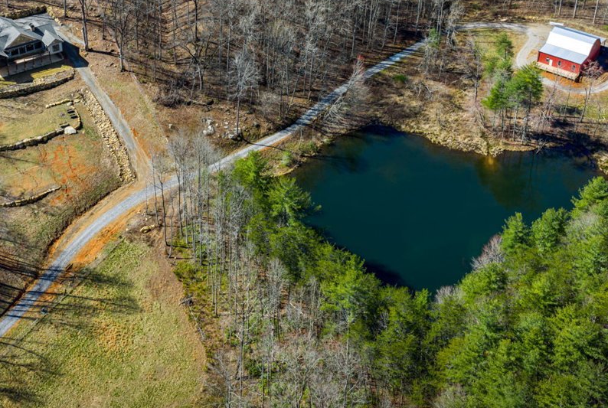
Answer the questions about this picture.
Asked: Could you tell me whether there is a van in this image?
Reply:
No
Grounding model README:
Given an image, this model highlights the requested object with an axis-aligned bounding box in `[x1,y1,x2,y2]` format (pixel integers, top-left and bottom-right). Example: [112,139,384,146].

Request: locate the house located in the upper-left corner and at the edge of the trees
[0,13,65,78]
